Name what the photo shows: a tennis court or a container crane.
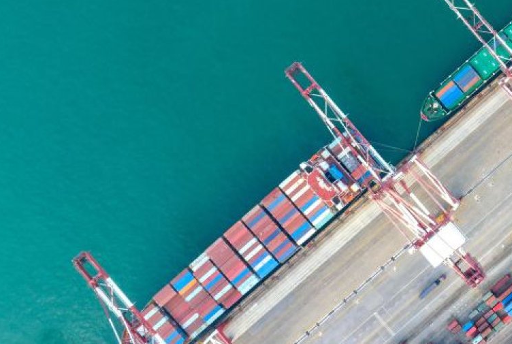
container crane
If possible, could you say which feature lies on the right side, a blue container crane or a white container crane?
white container crane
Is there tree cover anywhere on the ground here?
No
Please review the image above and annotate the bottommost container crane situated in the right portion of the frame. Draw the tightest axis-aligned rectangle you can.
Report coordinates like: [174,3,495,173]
[285,63,485,288]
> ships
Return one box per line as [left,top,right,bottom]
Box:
[422,18,512,120]
[114,125,391,344]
